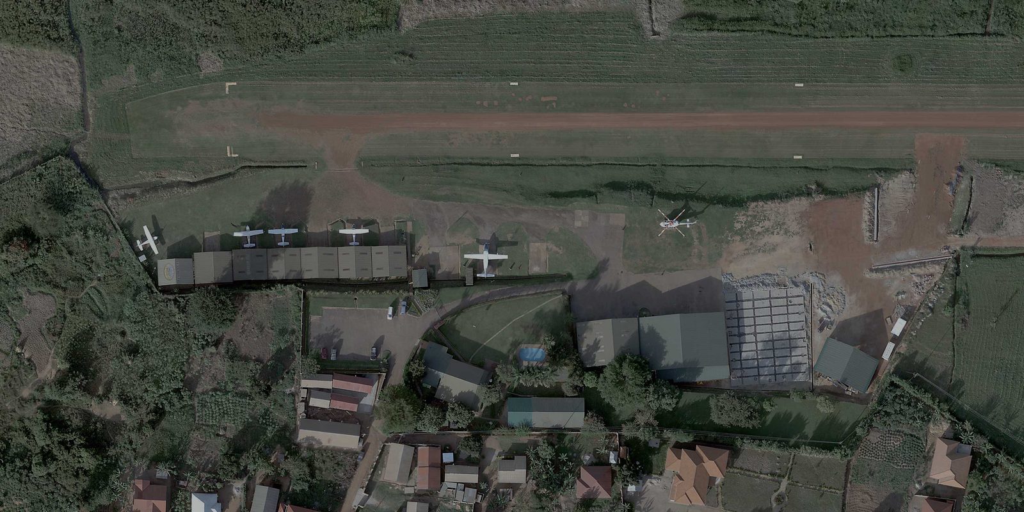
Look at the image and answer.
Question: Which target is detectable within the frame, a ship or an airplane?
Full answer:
Of the two, only an airplane appears.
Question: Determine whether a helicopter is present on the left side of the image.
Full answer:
No, there's no helicopter to be seen on the left side of the image.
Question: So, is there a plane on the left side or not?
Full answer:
Yes, there is a plane on the left side.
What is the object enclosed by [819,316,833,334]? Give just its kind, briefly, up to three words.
vehicle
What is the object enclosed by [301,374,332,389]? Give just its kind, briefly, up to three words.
shed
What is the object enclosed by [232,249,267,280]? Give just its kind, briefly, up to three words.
hangar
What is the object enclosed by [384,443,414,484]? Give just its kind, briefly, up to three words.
house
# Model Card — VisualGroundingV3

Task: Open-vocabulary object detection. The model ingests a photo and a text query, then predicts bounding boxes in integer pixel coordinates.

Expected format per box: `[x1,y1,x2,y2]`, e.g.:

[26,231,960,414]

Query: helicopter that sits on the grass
[655,209,696,238]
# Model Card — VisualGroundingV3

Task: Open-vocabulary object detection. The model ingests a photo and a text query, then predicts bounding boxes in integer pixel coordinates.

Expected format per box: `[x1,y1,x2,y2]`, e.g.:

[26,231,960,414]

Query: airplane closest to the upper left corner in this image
[135,226,158,254]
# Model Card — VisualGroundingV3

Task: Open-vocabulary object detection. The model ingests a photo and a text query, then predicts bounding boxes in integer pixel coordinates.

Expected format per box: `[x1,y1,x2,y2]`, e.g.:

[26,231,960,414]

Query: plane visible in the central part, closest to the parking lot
[464,243,508,279]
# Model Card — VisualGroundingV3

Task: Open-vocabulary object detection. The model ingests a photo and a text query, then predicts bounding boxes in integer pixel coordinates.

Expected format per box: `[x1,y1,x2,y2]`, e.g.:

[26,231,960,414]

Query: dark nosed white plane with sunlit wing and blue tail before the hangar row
[339,224,369,245]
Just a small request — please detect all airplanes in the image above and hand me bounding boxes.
[464,243,508,279]
[339,224,369,245]
[268,223,298,246]
[233,225,263,247]
[135,226,158,254]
